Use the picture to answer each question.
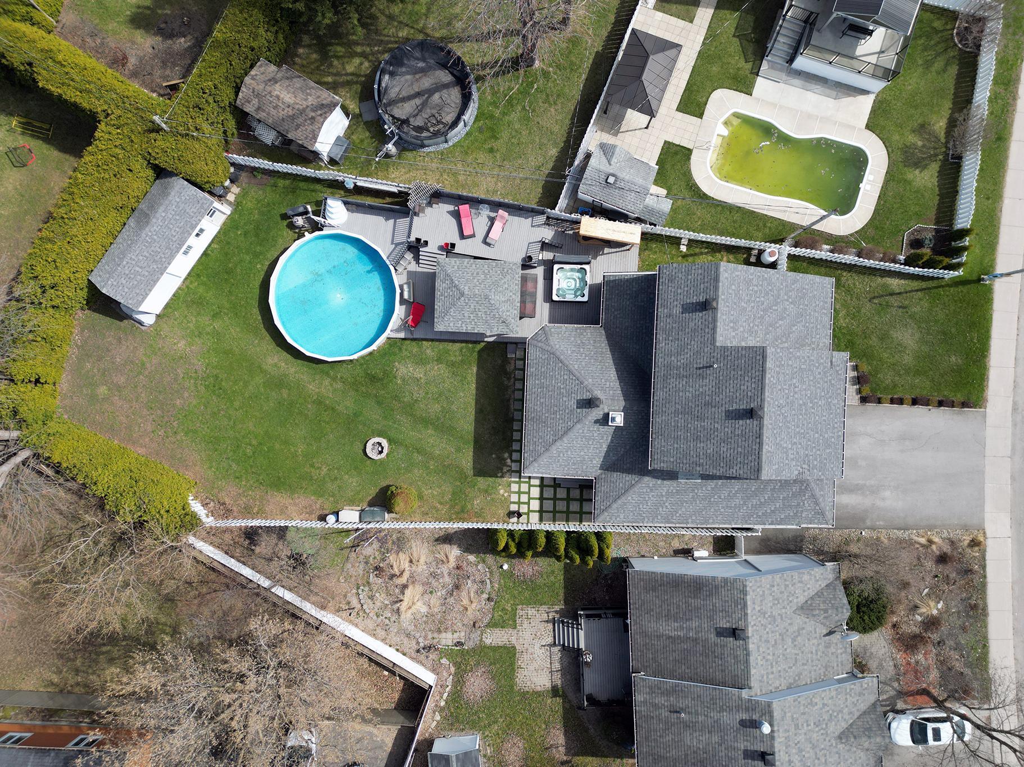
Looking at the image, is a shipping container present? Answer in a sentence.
No, this view has no shipping container in it.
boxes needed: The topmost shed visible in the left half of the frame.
[236,58,349,160]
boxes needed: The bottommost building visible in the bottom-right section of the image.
[624,556,892,767]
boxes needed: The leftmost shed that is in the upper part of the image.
[90,170,237,311]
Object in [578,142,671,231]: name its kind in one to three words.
shed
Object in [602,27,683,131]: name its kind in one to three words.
gazebo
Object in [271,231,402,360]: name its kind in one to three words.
swimming pool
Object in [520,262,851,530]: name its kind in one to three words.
house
